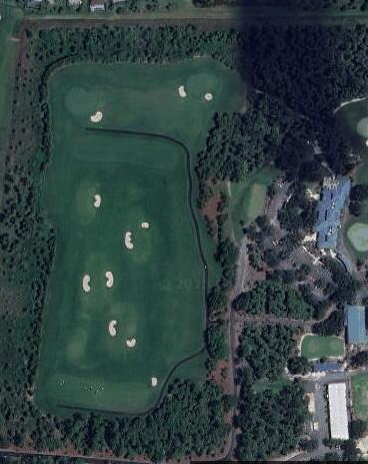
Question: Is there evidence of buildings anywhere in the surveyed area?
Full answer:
Yes, you can see a building in this photo.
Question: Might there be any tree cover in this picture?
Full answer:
Yes, tree cover shows up in the scene.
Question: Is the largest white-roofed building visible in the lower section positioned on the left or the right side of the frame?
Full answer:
The largest white-roofed building visible in the lower section appears in the right half of the scene.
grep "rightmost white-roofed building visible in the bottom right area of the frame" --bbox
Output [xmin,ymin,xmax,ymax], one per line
[328,381,349,439]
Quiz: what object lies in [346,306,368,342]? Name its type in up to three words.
building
